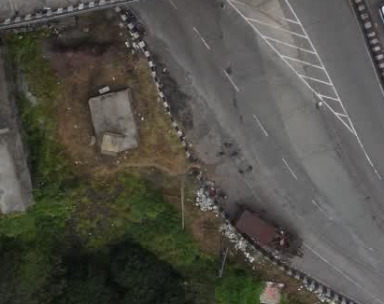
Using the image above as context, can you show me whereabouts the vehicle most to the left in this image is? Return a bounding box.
[233,204,298,256]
